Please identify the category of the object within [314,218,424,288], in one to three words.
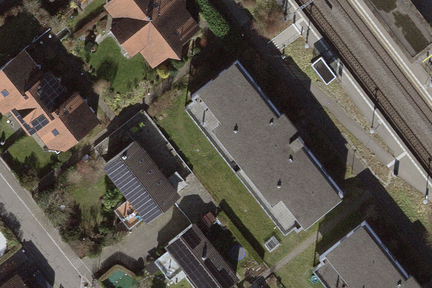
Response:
building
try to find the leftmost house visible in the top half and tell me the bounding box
[0,52,101,160]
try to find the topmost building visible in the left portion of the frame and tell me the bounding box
[97,0,210,79]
